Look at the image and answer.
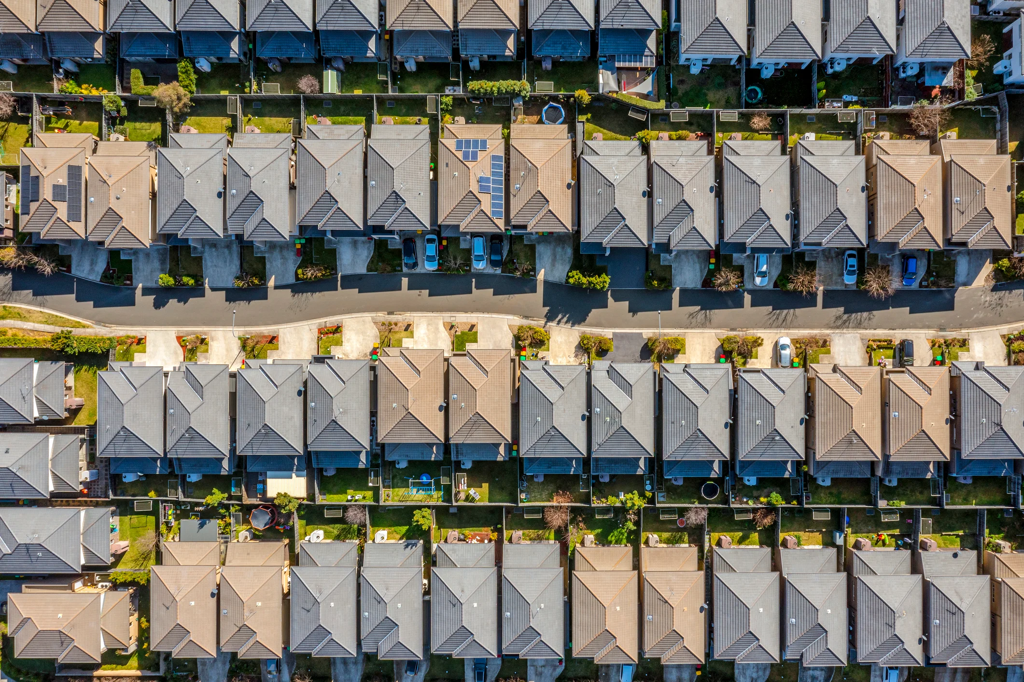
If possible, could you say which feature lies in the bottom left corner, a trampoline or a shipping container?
trampoline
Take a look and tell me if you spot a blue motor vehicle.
Yes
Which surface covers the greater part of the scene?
buildings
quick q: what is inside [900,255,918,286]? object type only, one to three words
car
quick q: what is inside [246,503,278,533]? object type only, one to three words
trampoline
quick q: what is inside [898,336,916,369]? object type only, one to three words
car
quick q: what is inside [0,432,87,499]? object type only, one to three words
house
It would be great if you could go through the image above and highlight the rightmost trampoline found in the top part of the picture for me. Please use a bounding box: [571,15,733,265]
[744,83,766,103]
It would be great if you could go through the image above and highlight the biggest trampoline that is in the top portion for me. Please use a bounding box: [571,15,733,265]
[542,100,565,124]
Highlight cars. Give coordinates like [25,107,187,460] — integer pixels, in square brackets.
[842,250,858,284]
[882,667,900,682]
[898,336,916,369]
[406,660,419,680]
[619,664,635,682]
[900,255,918,286]
[489,234,504,269]
[403,239,418,270]
[776,337,793,367]
[753,252,769,286]
[424,235,438,269]
[0,601,7,615]
[471,234,487,269]
[265,659,281,682]
[473,658,489,682]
